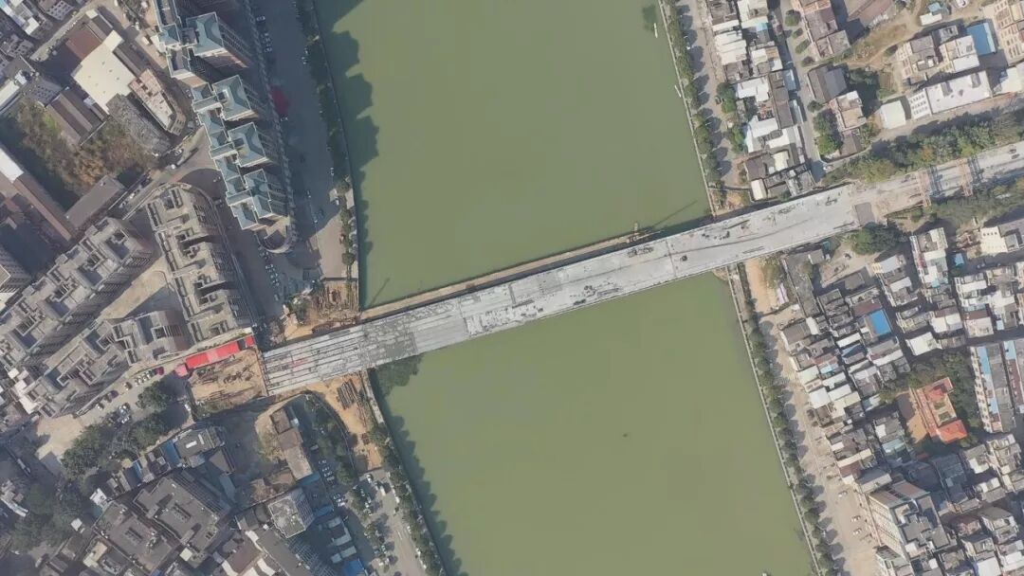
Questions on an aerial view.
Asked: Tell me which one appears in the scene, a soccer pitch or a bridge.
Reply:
bridge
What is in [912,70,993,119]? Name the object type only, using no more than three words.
building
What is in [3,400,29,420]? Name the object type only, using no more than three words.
house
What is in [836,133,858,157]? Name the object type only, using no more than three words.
house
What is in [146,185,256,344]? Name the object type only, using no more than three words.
building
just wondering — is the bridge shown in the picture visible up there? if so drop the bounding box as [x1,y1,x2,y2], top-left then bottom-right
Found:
[263,184,861,396]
